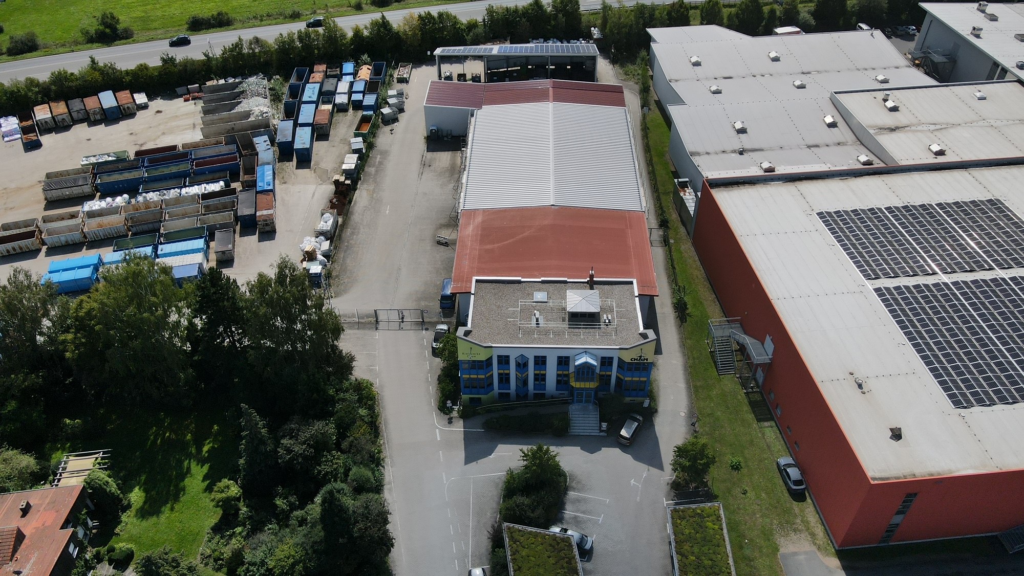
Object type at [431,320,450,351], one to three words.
car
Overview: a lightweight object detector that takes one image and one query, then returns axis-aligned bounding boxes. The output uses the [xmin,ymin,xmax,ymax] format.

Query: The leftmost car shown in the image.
[168,35,191,47]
